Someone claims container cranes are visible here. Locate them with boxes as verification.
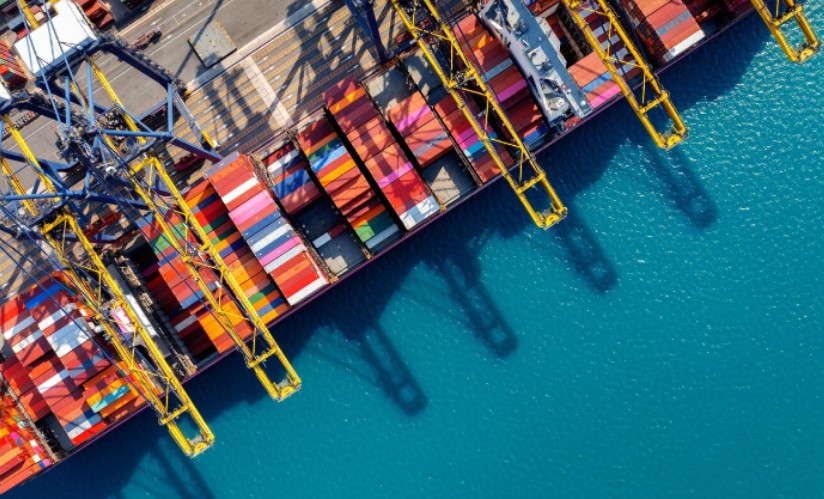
[0,71,216,461]
[325,0,573,232]
[561,0,696,153]
[12,0,304,404]
[745,0,824,70]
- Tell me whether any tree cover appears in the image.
No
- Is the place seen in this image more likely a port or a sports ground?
port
